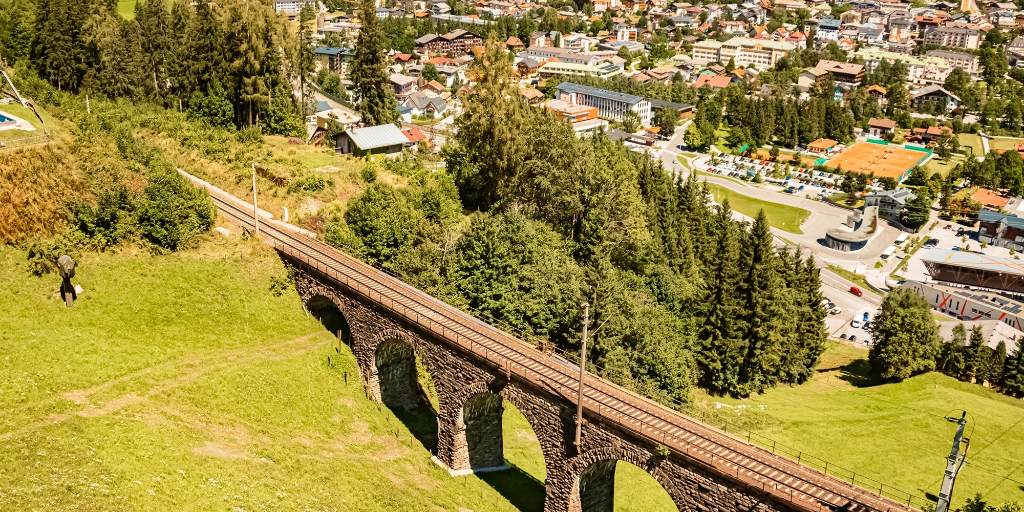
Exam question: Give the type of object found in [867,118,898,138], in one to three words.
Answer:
house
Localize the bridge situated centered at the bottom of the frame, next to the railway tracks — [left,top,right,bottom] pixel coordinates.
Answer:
[261,233,913,512]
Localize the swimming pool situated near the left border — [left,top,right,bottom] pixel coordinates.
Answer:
[0,110,36,141]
